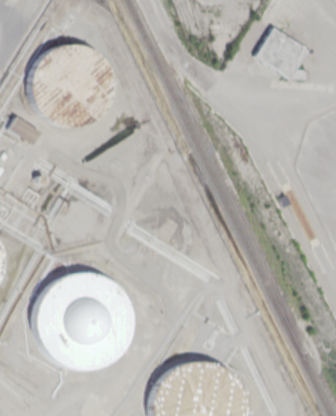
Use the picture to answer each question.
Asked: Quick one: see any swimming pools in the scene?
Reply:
No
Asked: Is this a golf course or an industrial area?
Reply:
industrial area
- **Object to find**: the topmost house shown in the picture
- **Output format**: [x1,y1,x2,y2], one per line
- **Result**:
[254,26,309,82]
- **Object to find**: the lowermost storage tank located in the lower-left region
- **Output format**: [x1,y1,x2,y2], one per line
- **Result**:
[29,272,134,375]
